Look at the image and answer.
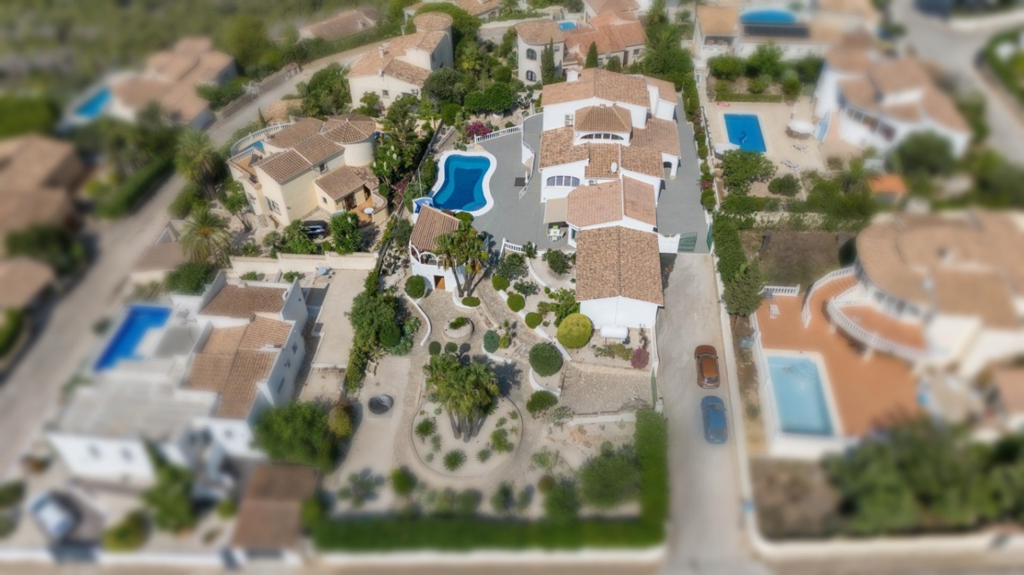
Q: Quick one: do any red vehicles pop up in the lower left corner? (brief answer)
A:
No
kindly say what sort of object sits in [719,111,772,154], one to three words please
swimming pool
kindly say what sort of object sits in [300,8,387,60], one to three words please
house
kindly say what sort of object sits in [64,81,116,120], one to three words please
swimming pool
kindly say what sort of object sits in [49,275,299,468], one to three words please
house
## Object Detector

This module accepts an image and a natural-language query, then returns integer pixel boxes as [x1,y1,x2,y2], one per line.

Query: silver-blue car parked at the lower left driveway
[32,492,76,550]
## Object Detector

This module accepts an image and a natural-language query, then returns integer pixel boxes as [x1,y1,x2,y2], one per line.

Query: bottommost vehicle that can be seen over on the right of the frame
[701,399,731,446]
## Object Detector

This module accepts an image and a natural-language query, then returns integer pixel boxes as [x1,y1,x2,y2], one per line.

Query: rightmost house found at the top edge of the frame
[820,28,968,164]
